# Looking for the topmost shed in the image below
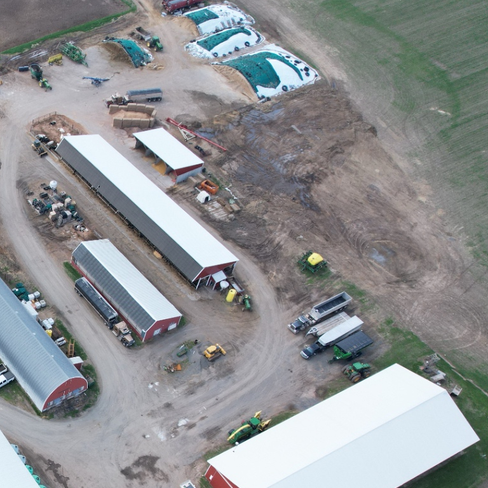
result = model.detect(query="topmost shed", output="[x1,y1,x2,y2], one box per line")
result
[137,128,198,182]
